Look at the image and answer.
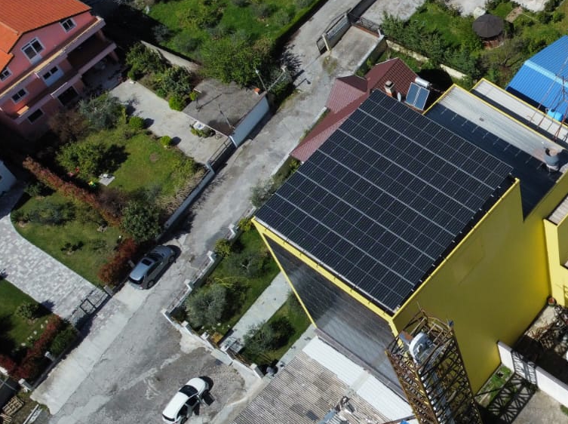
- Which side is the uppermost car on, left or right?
left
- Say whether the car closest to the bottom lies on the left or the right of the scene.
left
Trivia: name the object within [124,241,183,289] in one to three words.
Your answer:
car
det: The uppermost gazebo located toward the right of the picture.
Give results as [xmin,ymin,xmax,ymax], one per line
[465,1,510,45]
